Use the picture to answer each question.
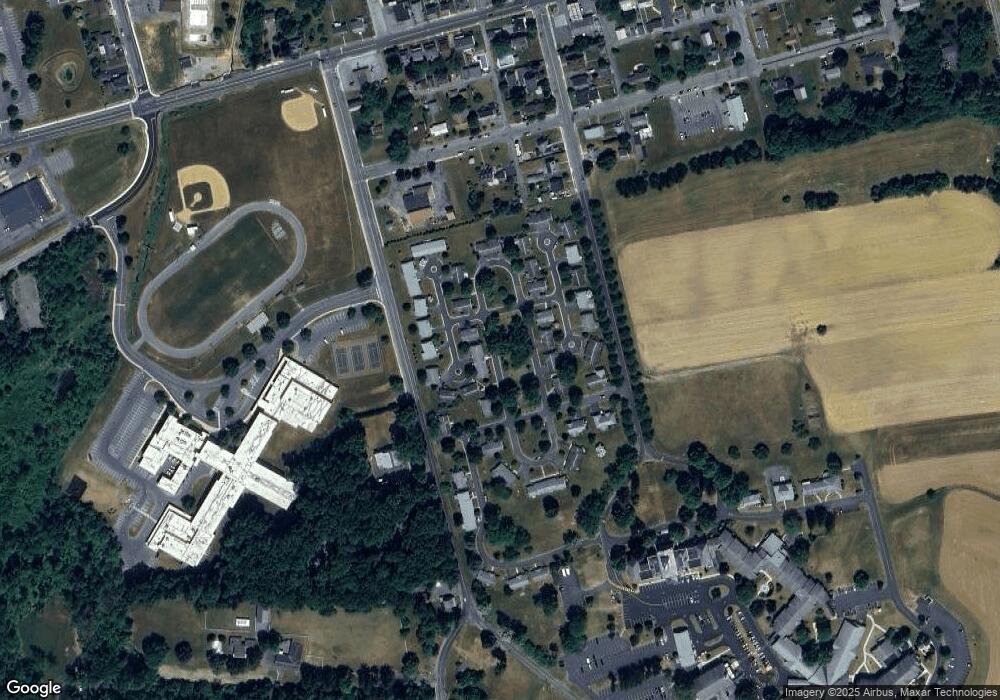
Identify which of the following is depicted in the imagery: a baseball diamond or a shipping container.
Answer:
baseball diamond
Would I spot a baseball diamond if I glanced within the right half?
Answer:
No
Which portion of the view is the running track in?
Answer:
left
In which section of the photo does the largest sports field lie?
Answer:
left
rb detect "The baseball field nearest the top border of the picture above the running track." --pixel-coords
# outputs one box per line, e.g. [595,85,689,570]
[281,89,323,131]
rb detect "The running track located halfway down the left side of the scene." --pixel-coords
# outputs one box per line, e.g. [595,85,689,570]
[136,200,308,358]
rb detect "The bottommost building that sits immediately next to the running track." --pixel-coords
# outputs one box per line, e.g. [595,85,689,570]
[138,356,339,566]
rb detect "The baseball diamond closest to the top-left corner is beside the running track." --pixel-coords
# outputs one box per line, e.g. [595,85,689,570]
[174,165,229,226]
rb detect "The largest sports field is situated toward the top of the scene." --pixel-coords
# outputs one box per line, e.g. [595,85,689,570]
[147,212,296,347]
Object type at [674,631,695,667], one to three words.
building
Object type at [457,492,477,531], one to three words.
house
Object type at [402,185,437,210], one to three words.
building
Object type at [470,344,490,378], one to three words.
house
